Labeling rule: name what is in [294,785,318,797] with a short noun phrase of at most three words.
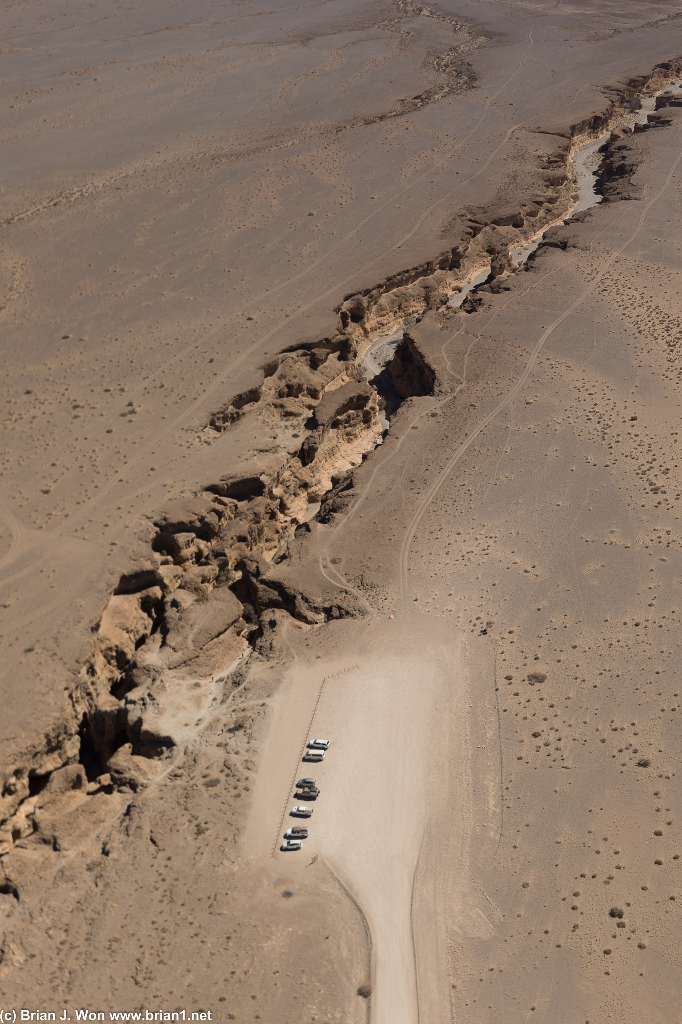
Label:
vehicle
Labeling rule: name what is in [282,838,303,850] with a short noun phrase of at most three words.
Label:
vehicle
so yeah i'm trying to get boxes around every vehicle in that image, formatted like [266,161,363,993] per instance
[294,785,318,797]
[289,804,313,816]
[282,838,303,850]
[304,748,325,759]
[308,737,331,749]
[284,825,309,837]
[297,777,316,787]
